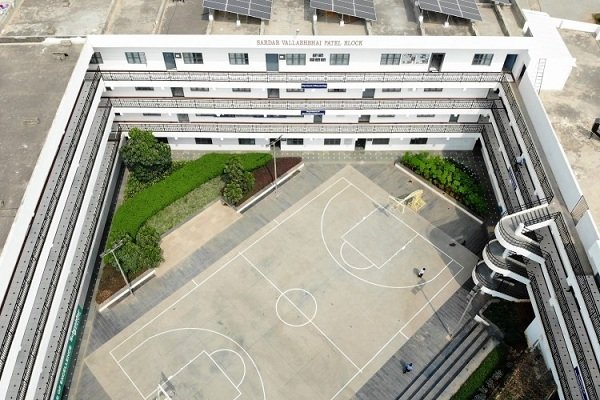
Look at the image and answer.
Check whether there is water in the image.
No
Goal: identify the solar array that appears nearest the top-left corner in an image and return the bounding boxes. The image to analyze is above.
[203,0,283,32]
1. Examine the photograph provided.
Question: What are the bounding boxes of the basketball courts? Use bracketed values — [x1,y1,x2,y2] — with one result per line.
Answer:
[81,163,483,400]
